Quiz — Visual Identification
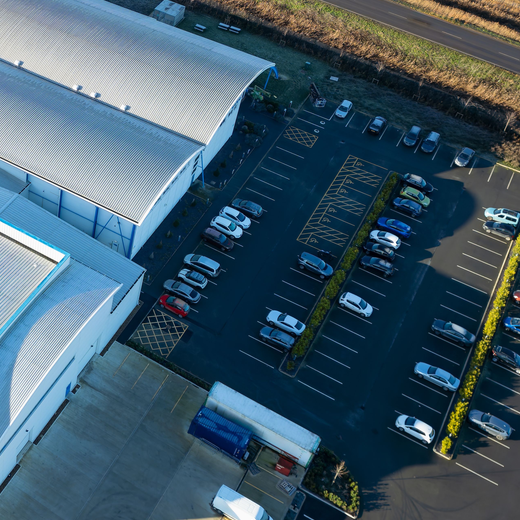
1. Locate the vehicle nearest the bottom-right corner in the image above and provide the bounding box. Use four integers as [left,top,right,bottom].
[467,410,514,441]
